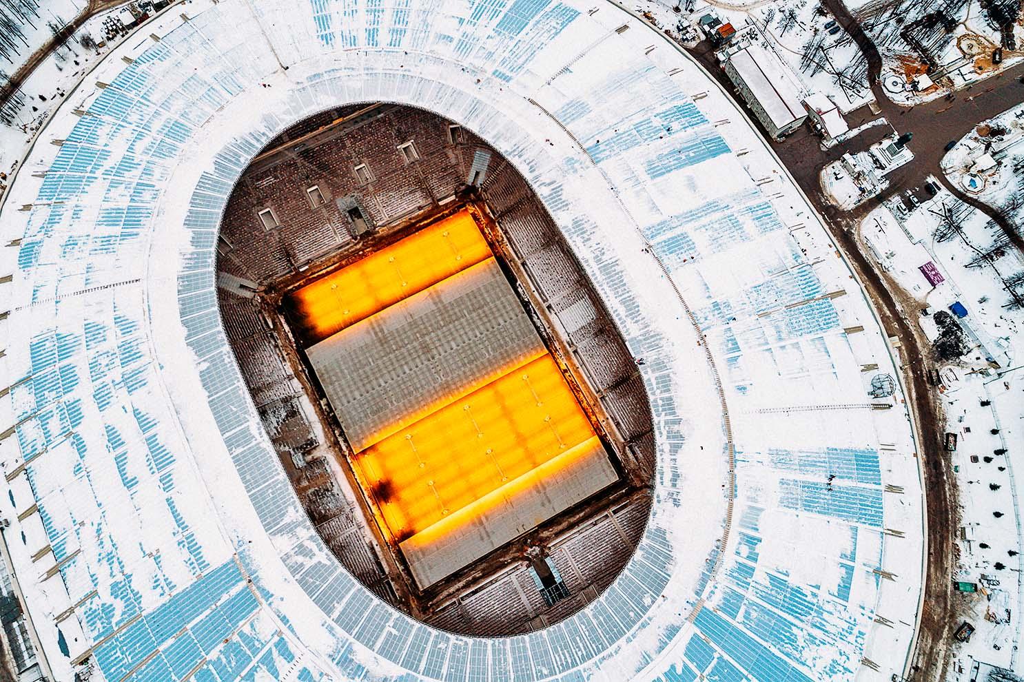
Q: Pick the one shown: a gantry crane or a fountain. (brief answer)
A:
fountain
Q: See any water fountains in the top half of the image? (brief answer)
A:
Yes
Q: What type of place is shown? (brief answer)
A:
sports ground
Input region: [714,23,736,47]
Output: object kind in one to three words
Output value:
house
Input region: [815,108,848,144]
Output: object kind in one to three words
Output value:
building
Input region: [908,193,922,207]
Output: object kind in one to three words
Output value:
car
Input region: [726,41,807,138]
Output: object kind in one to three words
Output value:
building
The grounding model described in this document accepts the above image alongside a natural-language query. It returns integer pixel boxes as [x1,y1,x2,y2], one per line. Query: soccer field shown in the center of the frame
[285,210,620,590]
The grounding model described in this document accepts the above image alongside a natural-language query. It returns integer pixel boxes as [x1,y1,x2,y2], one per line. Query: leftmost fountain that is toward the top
[880,69,911,97]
